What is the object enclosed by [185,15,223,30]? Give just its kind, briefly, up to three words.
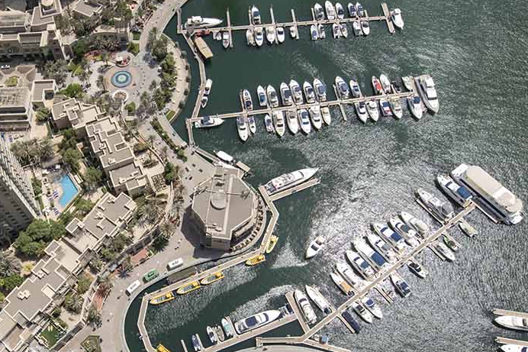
boat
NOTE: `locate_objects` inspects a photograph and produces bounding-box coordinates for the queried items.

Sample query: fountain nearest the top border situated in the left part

[111,70,132,88]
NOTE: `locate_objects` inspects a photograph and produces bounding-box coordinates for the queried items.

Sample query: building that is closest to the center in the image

[192,170,265,254]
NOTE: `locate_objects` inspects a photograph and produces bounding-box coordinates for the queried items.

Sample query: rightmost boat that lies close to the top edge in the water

[391,8,404,29]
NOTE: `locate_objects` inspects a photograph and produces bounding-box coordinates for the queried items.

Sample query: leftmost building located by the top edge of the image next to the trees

[0,0,69,58]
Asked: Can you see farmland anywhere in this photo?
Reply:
No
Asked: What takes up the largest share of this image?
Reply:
water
